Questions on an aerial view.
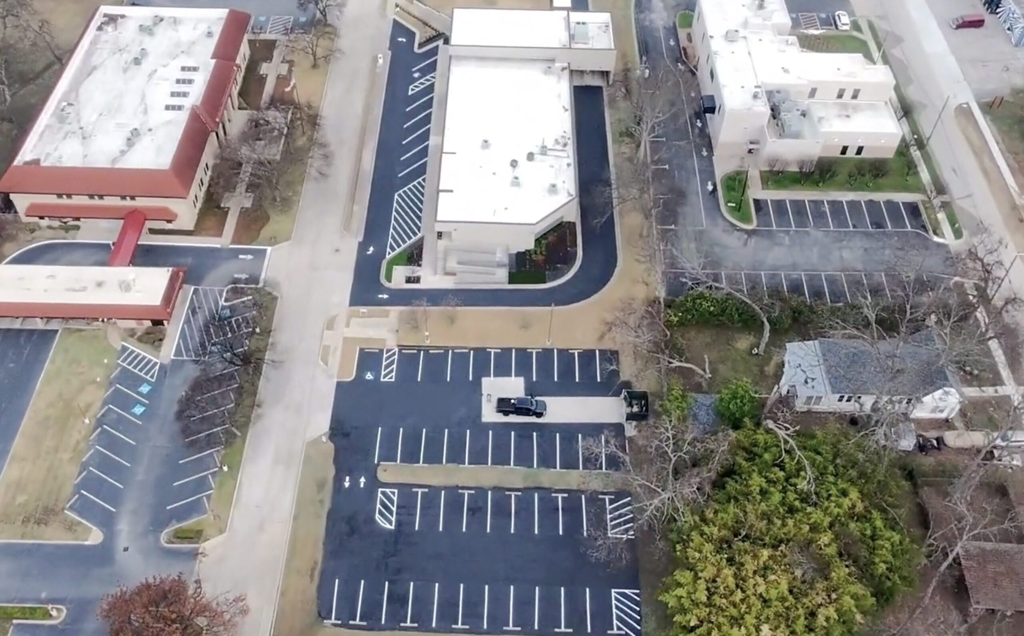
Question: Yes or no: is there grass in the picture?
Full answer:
Yes, there's grass in this view.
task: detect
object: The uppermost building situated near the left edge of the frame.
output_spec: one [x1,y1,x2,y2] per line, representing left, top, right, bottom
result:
[0,4,249,227]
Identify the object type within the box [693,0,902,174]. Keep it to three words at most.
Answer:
building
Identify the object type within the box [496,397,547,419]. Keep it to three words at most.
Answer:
truck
